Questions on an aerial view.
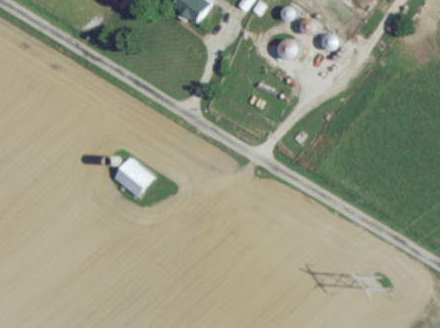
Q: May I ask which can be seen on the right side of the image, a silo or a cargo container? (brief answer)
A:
silo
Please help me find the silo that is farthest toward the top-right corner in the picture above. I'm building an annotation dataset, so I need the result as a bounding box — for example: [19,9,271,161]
[322,33,343,52]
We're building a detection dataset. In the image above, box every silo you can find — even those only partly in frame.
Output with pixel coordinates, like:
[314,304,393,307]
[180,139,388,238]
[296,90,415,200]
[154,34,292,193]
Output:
[102,154,122,166]
[281,4,301,22]
[301,17,322,36]
[278,38,302,60]
[322,33,343,52]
